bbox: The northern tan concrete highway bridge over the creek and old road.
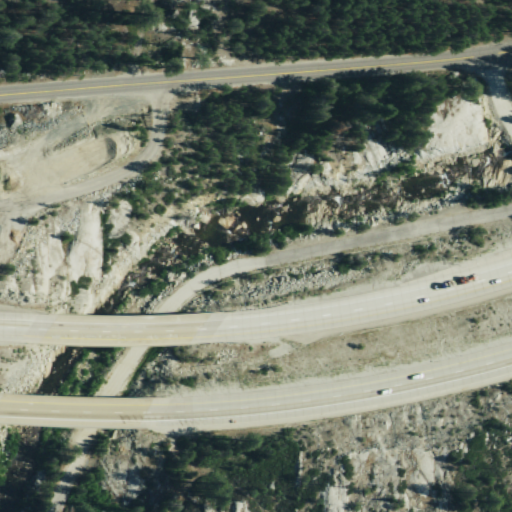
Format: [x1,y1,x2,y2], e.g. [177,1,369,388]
[53,313,211,347]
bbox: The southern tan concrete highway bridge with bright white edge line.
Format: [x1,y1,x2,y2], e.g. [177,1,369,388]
[8,394,152,428]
